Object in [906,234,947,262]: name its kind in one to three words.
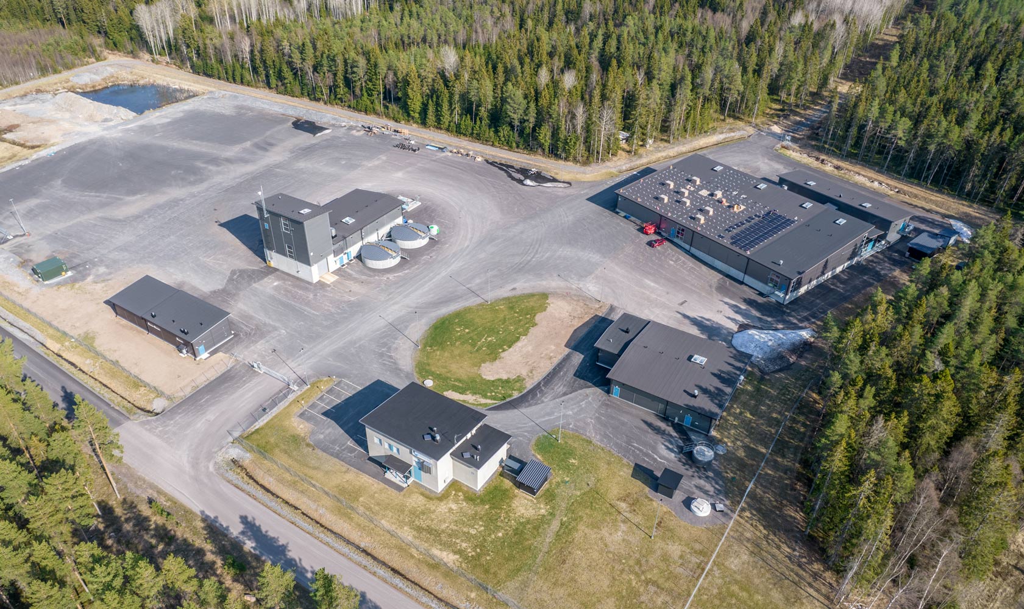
shed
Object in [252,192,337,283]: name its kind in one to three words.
building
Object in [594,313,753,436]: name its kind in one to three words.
building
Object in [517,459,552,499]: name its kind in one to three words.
shed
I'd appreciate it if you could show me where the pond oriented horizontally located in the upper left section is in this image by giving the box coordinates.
[82,83,198,114]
